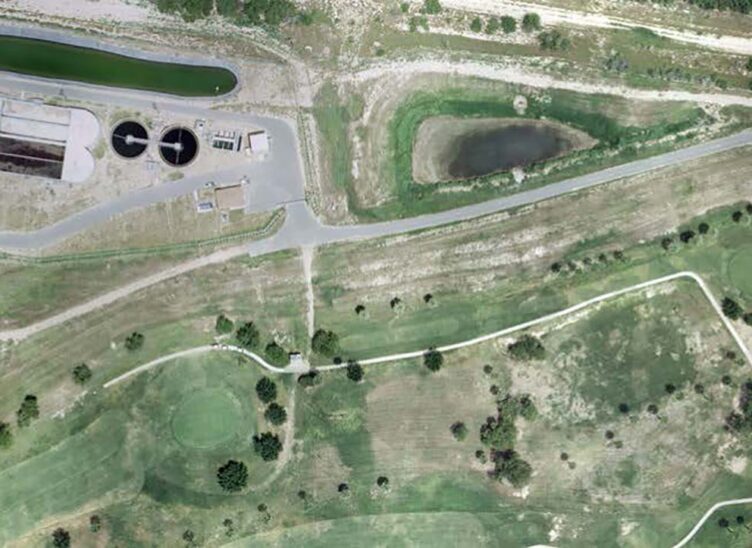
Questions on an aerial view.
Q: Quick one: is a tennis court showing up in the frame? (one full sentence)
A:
No, the picture doesn't show any tennis court.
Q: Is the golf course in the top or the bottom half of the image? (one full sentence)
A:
You can find the golf course in the bottom half.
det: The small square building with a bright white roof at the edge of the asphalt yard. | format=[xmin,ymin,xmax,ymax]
[248,131,269,152]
